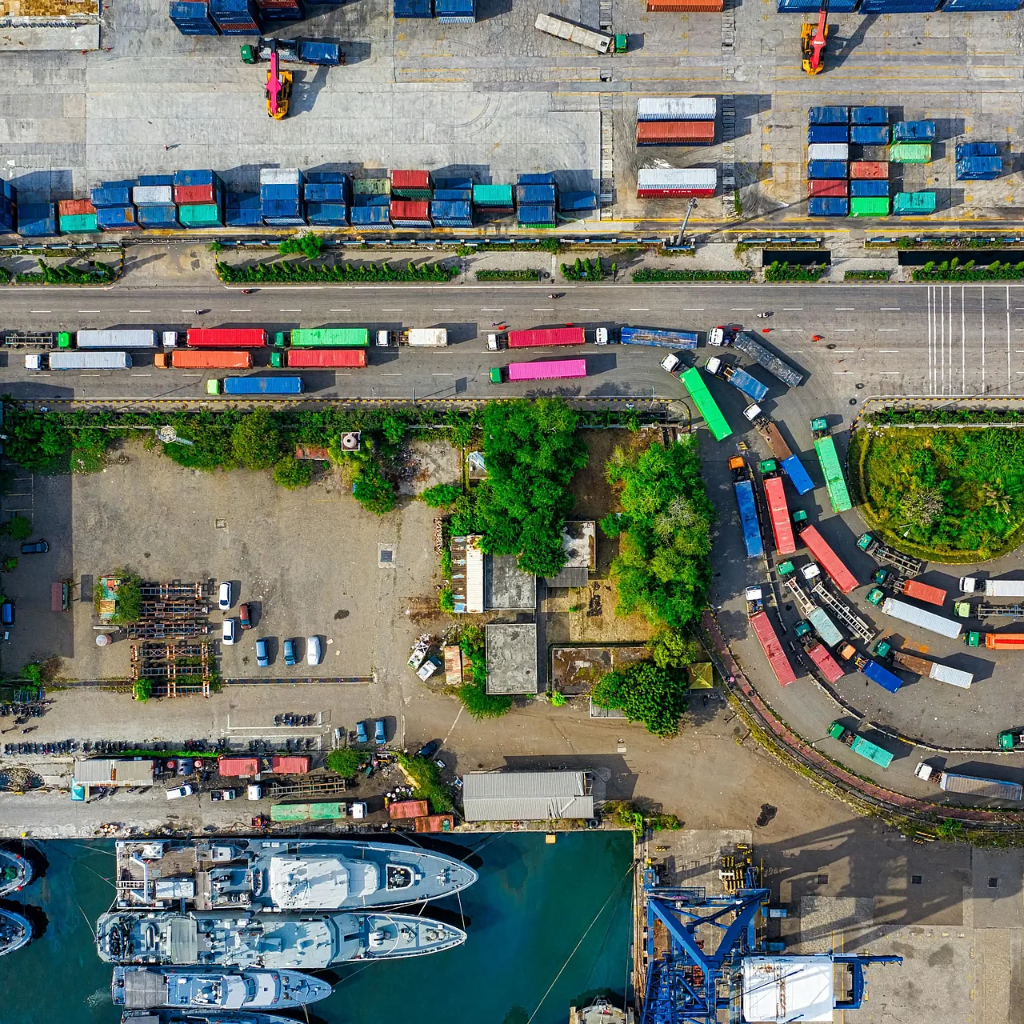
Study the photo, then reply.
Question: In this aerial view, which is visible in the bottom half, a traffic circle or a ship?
ship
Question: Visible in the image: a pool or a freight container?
freight container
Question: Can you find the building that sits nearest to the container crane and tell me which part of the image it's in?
bottom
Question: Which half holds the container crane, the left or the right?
right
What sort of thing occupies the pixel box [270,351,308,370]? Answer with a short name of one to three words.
vehicle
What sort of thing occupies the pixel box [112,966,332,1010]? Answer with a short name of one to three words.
vessel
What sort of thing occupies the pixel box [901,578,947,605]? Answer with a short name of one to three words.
shipping container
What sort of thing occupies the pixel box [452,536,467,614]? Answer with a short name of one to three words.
shed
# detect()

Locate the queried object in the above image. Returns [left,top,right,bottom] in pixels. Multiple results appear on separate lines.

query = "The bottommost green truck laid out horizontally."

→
[271,800,368,822]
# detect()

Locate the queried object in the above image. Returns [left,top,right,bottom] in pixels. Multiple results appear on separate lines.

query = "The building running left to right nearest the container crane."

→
[463,769,594,822]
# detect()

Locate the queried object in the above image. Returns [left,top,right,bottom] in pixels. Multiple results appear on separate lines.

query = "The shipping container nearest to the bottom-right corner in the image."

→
[938,771,1022,801]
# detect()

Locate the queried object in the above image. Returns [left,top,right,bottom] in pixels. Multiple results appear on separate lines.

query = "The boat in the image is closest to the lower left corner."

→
[0,903,38,956]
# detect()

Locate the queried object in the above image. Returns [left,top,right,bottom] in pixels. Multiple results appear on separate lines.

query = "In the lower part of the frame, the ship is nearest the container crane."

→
[569,997,634,1024]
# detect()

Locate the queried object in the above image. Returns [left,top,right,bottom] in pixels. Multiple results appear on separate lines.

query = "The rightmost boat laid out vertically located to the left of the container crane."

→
[250,866,264,897]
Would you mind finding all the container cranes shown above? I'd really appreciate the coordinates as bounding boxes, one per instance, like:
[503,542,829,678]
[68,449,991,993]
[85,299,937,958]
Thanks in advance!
[640,859,904,1024]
